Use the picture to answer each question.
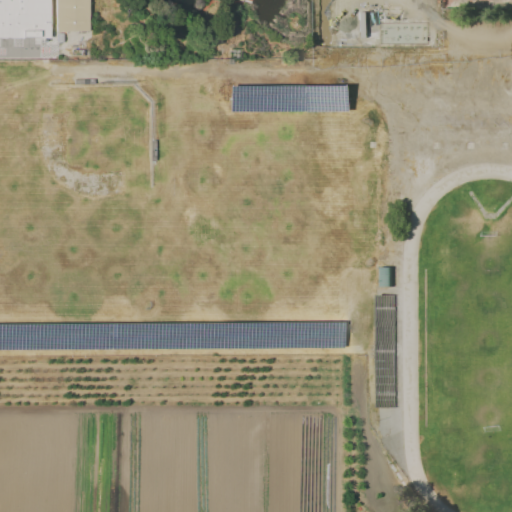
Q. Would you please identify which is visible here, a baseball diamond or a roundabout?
baseball diamond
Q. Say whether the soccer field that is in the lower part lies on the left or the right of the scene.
right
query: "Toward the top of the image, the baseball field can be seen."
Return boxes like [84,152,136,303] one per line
[40,80,154,192]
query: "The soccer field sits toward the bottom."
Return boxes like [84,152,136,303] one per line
[427,236,512,428]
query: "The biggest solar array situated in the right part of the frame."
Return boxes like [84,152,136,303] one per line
[377,294,396,407]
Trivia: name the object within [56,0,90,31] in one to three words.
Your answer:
shed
